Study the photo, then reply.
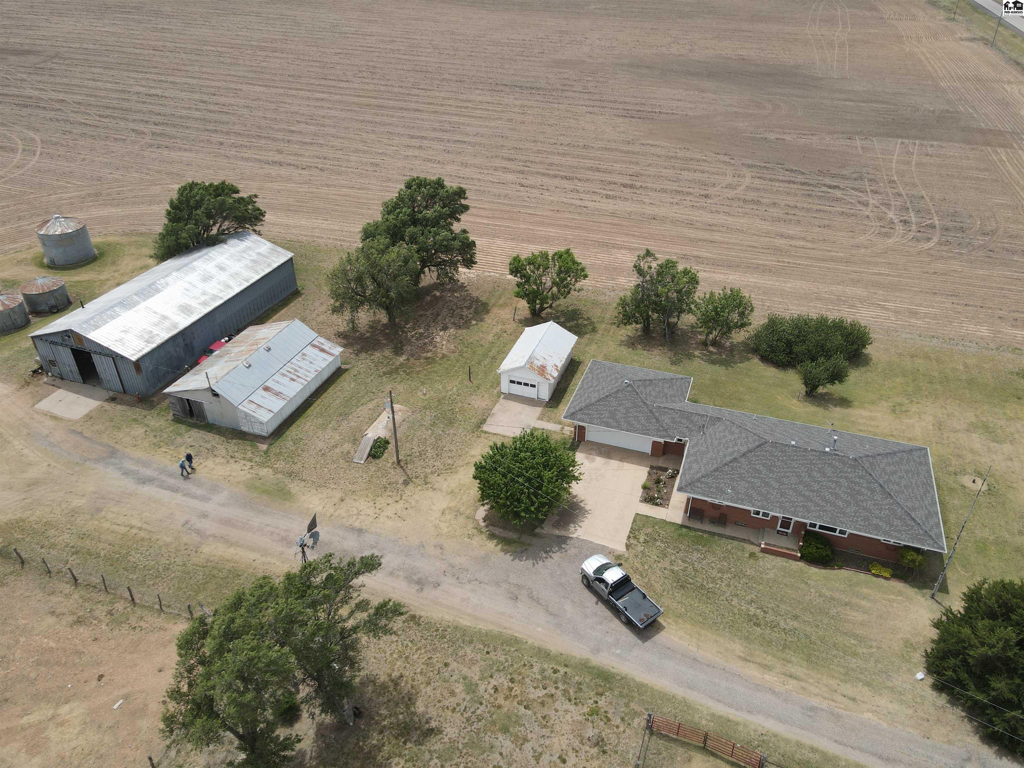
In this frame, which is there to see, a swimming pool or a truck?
truck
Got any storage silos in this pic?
Yes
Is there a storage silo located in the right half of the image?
No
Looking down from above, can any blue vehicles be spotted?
No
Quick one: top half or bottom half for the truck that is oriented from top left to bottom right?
bottom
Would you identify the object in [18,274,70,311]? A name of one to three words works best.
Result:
silo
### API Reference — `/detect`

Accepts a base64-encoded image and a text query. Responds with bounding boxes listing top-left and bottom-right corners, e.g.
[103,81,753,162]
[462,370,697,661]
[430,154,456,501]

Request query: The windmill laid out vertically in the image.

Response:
[292,513,323,574]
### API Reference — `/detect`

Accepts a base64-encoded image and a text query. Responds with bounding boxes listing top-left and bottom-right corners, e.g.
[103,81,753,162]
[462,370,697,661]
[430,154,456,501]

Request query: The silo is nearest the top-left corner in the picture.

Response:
[34,213,95,261]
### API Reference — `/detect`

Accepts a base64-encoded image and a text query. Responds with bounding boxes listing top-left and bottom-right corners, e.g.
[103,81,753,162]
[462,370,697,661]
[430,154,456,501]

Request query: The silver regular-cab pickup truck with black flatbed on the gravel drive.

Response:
[580,558,666,632]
